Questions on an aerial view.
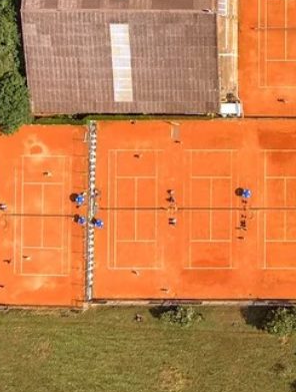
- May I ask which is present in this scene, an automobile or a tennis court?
tennis court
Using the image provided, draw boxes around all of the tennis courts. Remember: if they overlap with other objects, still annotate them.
[174,117,248,299]
[95,120,174,299]
[248,117,296,299]
[238,0,296,117]
[5,124,86,307]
